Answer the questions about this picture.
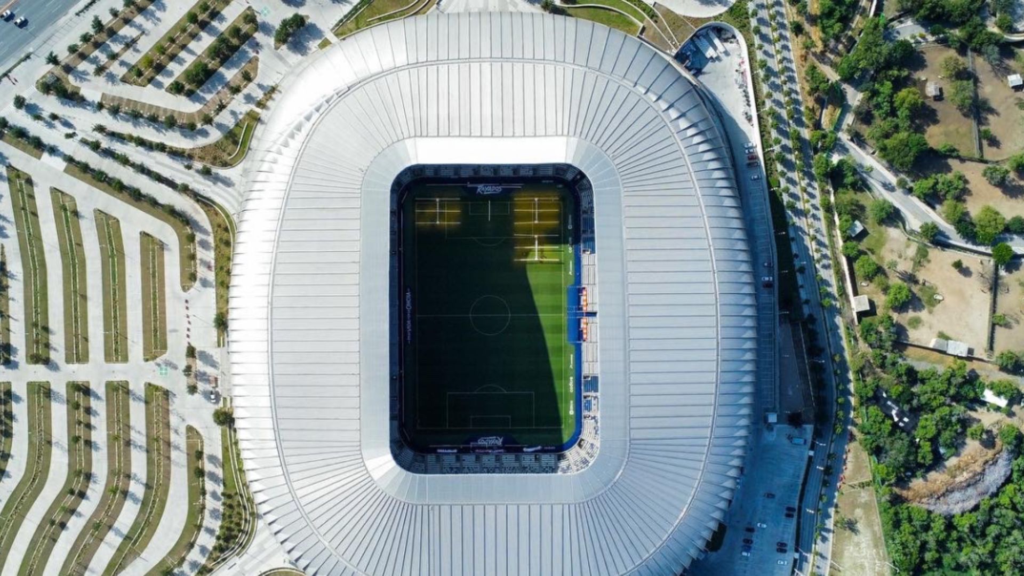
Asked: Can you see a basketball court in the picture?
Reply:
No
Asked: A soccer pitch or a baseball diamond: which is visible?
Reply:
soccer pitch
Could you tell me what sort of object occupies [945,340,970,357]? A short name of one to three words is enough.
shed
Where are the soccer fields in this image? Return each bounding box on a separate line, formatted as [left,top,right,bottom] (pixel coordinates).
[399,177,580,452]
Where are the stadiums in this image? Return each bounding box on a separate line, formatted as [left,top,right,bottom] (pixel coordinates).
[227,13,758,576]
